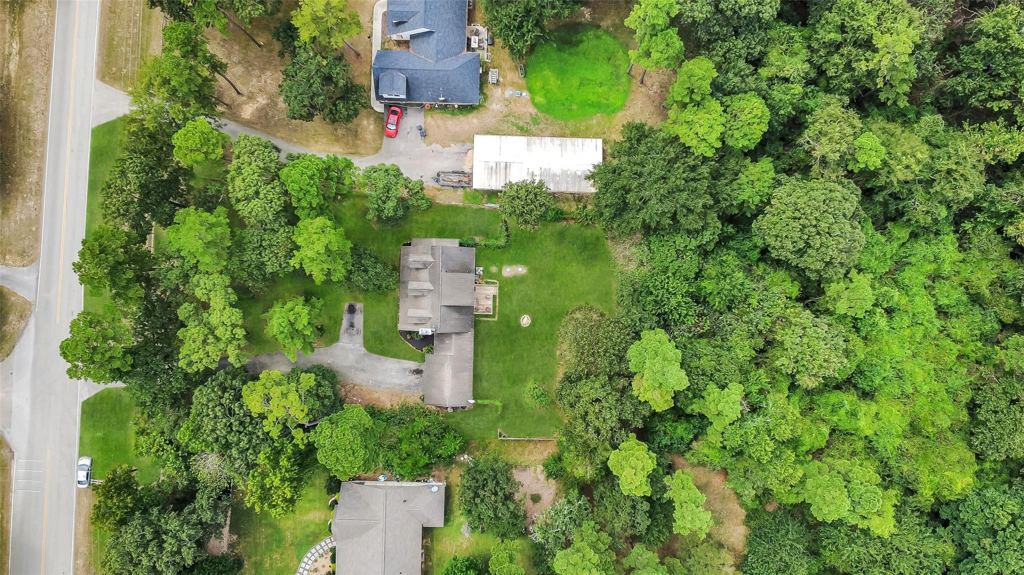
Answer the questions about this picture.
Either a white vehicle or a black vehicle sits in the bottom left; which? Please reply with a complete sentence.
The feature located in the bottom left is a white vehicle.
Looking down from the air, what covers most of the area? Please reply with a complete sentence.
The bulk of the photo consists of trees.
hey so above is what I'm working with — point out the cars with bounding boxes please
[383,103,402,137]
[73,457,91,489]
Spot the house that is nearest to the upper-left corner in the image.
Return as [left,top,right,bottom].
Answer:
[372,0,480,105]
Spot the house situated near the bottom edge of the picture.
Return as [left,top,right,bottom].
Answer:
[333,479,447,575]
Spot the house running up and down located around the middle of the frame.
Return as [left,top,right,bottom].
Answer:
[398,238,476,407]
